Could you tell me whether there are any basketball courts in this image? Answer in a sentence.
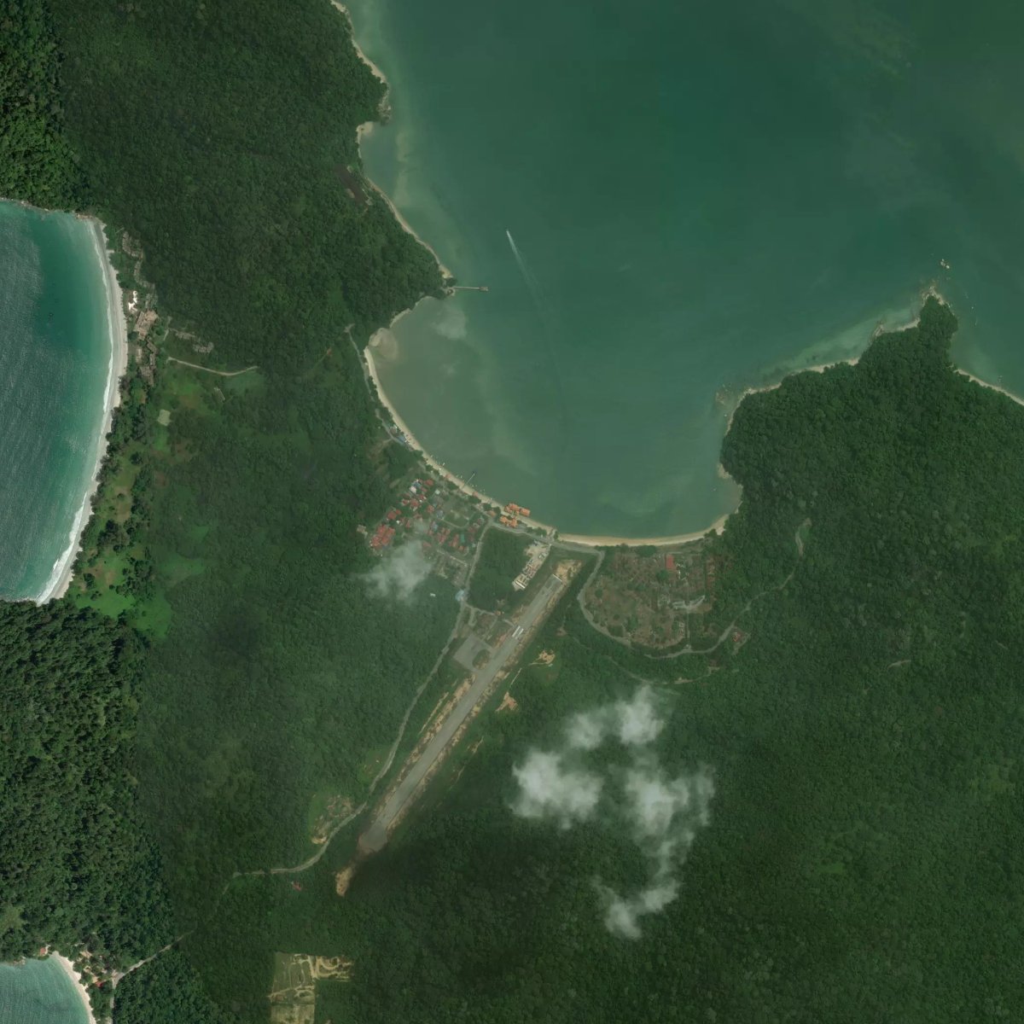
No, no basketball court can be seen from above.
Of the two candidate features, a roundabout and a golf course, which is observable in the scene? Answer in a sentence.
I can see a golf course in this picture.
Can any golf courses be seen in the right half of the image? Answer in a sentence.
No, the scene shows no golf course in the right half of the image.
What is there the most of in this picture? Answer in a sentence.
The scene is dominated by trees.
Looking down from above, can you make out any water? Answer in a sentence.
Yes, some water is visible.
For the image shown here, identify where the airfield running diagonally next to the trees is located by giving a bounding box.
[361,575,562,851]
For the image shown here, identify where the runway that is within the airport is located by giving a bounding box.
[375,575,562,833]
